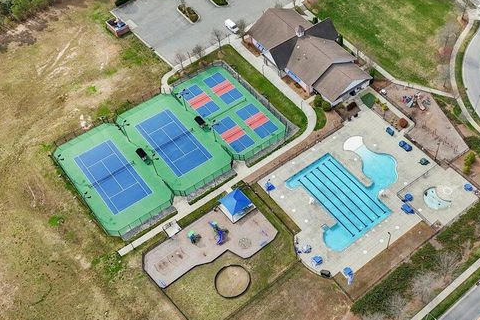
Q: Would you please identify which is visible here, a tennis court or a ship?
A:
tennis court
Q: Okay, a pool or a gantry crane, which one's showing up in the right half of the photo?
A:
pool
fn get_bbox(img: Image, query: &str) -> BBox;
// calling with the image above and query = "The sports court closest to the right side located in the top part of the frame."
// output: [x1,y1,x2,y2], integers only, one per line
[236,103,279,139]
